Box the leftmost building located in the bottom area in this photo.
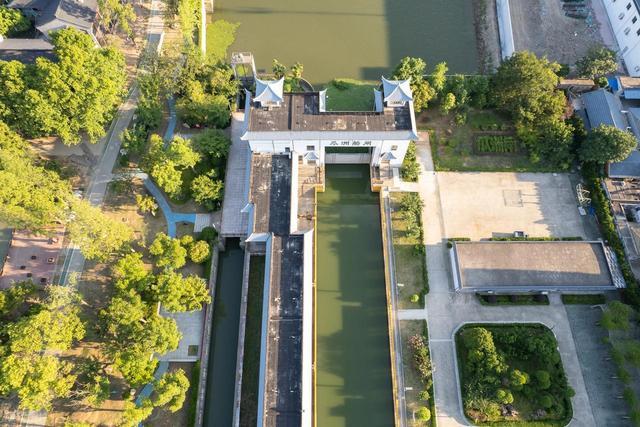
[239,148,314,427]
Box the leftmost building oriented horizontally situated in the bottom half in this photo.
[444,244,615,298]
